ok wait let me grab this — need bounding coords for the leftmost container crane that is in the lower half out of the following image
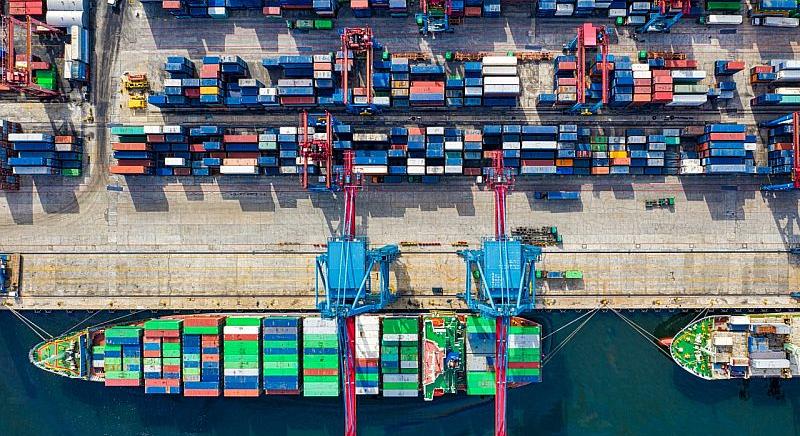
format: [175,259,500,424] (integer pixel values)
[314,145,402,436]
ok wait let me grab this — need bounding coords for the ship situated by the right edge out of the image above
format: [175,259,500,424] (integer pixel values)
[659,311,800,381]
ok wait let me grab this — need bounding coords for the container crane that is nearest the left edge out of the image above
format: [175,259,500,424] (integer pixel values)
[4,14,71,103]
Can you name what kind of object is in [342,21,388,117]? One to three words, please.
container crane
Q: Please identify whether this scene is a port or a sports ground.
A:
port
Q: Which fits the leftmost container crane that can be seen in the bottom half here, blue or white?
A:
blue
